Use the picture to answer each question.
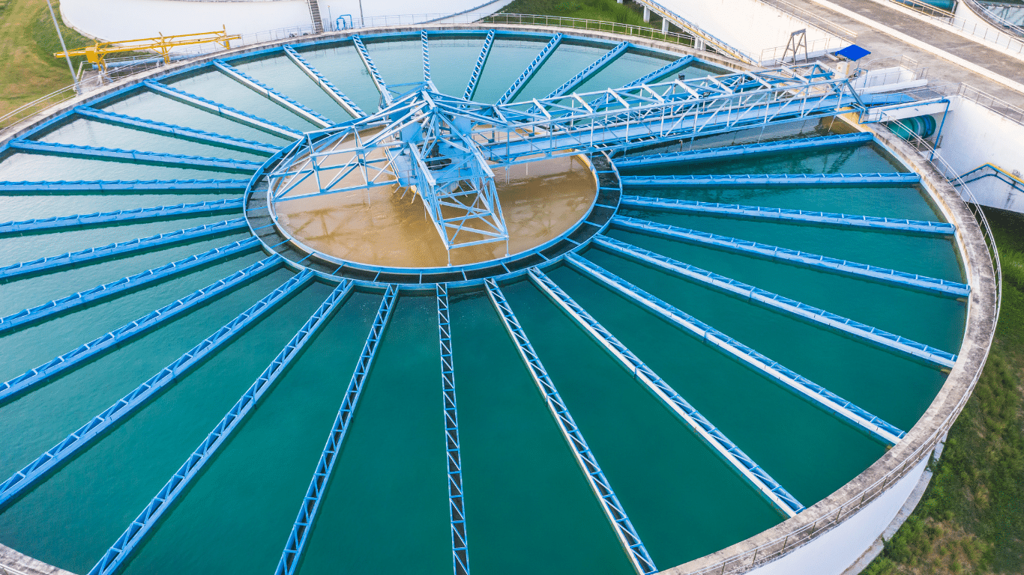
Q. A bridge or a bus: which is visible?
bridge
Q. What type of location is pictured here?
industrial area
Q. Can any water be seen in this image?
Yes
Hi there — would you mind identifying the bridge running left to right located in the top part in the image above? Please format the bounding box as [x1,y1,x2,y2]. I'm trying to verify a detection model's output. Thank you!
[460,59,871,186]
